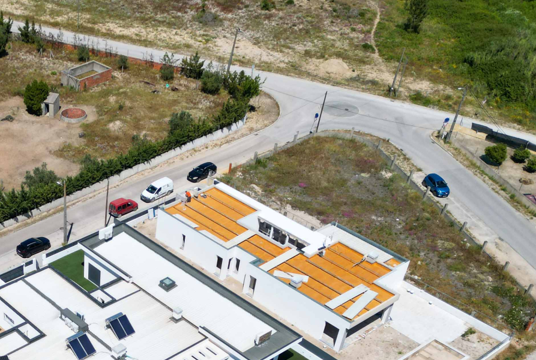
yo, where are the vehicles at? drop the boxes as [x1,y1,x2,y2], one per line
[12,236,53,261]
[186,161,220,184]
[421,174,452,199]
[108,195,140,219]
[141,174,175,202]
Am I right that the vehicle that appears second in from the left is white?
No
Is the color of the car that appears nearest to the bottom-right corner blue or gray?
blue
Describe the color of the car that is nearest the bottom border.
black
